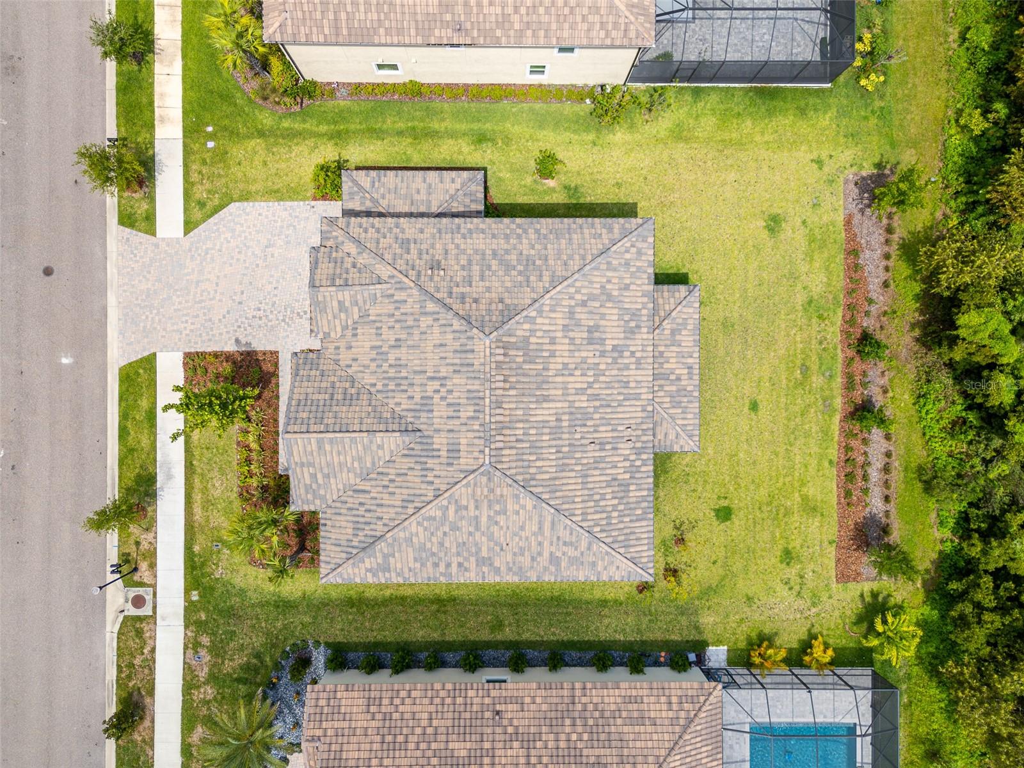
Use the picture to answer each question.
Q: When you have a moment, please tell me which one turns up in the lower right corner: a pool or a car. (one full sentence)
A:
What appears in the lower right corner is a pool.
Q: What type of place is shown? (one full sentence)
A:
This image shows a residential area.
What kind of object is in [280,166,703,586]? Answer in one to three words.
house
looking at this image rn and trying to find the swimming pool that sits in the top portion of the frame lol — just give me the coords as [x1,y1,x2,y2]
[656,0,698,23]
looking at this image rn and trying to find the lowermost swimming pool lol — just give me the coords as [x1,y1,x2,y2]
[745,719,862,768]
